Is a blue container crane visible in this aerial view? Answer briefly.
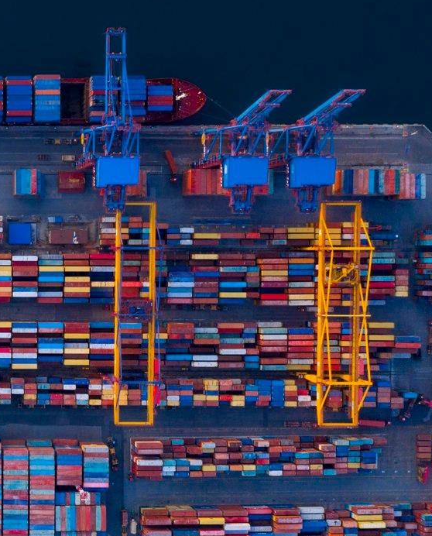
Yes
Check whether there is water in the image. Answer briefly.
Yes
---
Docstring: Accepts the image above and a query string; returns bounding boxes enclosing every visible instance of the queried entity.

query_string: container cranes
[68,26,141,212]
[255,89,369,212]
[188,89,293,212]
[94,201,163,426]
[286,201,376,426]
